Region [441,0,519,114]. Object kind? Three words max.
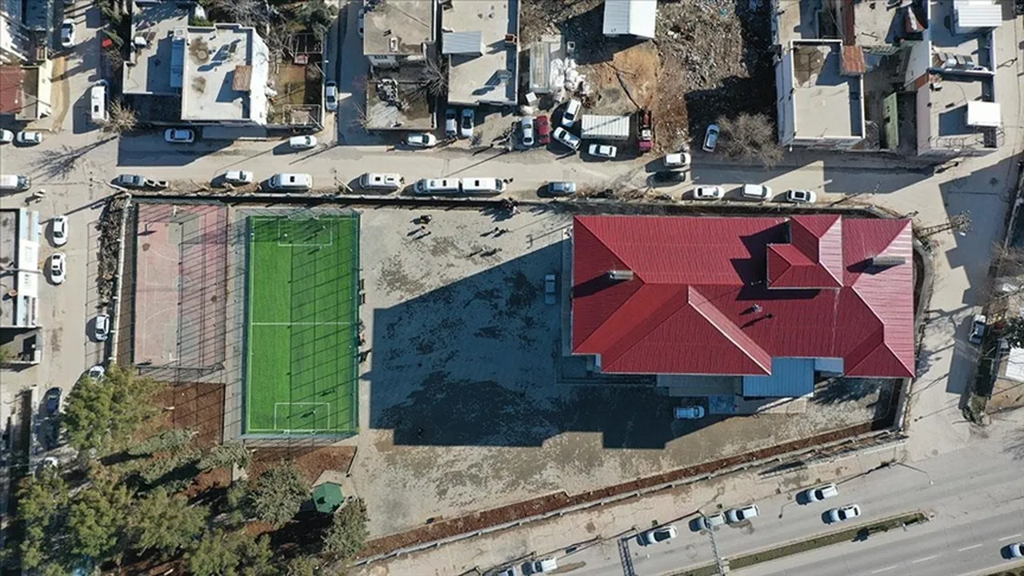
house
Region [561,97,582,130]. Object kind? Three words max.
car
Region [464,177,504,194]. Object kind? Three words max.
vehicle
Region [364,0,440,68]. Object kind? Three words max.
house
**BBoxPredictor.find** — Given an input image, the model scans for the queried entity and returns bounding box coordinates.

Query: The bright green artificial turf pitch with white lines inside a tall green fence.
[244,214,359,435]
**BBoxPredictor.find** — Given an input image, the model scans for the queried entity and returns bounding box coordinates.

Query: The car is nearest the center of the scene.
[543,274,557,305]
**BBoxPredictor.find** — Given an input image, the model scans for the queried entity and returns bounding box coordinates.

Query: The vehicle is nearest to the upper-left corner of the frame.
[60,18,78,49]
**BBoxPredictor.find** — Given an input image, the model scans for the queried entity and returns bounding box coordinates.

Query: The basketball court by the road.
[132,204,227,365]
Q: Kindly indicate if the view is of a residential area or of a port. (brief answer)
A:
residential area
